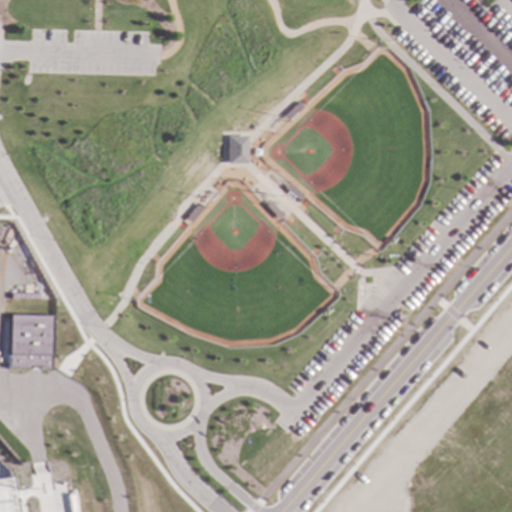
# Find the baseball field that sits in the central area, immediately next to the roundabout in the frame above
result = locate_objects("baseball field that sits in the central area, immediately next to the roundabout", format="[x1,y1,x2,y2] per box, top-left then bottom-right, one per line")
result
[135,167,340,347]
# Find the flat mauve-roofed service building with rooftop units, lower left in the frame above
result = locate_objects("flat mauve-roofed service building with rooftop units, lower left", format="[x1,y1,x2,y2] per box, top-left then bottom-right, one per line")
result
[10,315,56,368]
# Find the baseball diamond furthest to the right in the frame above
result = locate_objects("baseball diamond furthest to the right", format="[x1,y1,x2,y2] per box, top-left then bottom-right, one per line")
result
[256,46,432,251]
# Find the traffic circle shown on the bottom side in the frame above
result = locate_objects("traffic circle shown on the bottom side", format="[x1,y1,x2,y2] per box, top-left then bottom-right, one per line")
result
[130,358,212,440]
